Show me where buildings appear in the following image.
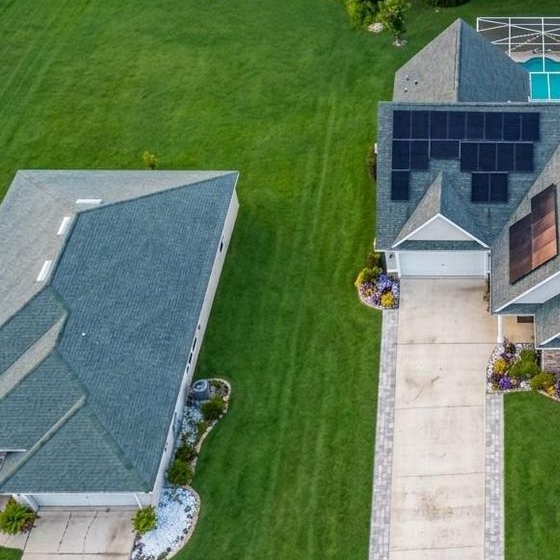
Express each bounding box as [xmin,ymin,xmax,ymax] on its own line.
[0,169,240,508]
[373,17,560,373]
